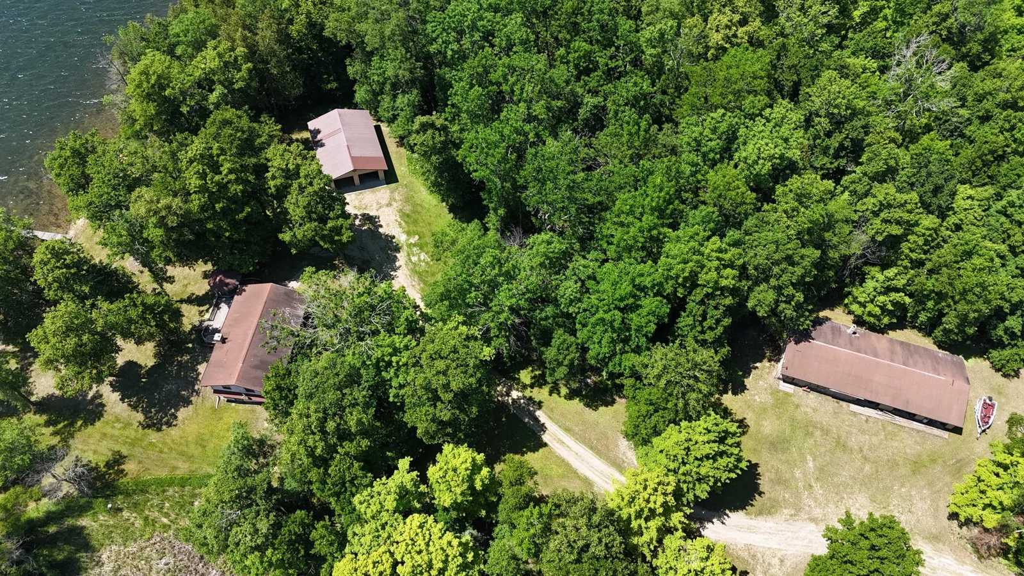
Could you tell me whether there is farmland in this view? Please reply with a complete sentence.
No, no farmland is visible.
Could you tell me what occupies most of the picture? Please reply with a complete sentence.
Most of the picture is covered by trees.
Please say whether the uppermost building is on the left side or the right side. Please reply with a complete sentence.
The uppermost building sits on the left side.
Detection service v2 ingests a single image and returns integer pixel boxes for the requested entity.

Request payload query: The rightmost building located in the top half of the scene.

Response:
[308,108,388,196]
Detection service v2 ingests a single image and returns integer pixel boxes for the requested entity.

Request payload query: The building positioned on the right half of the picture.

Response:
[780,315,970,429]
